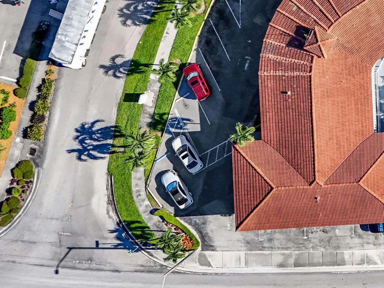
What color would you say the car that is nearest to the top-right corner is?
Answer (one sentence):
The color of the car that is nearest to the top-right corner is red.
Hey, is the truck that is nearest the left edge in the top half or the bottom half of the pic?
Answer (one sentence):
The truck that is nearest the left edge is in the top half of the image.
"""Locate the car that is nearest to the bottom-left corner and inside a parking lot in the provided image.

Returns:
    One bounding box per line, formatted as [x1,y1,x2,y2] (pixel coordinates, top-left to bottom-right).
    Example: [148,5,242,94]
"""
[160,168,197,212]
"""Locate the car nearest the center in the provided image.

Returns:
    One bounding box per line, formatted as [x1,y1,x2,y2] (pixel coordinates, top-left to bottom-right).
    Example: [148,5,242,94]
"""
[171,134,207,177]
